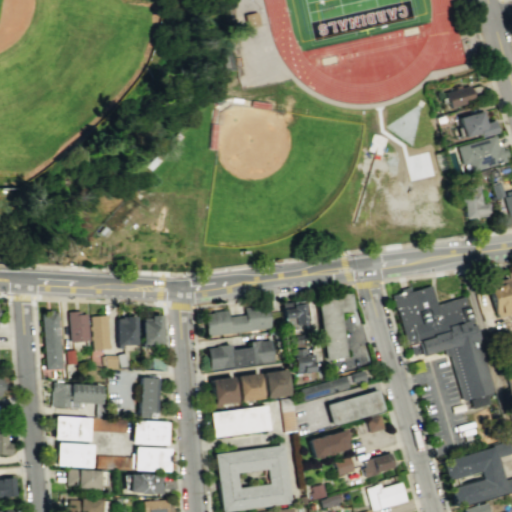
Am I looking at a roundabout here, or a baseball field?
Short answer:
baseball field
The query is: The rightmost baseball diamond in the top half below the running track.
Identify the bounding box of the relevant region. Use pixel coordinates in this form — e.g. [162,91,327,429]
[206,96,364,247]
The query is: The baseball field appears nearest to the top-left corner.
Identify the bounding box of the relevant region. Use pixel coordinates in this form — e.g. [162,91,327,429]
[0,0,156,186]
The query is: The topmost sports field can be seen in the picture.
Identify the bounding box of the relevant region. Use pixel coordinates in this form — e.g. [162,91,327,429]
[288,0,432,51]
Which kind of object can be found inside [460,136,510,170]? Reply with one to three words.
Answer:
house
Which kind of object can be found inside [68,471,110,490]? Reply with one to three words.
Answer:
house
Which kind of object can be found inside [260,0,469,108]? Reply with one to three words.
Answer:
running track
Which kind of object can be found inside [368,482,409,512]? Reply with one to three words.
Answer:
building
